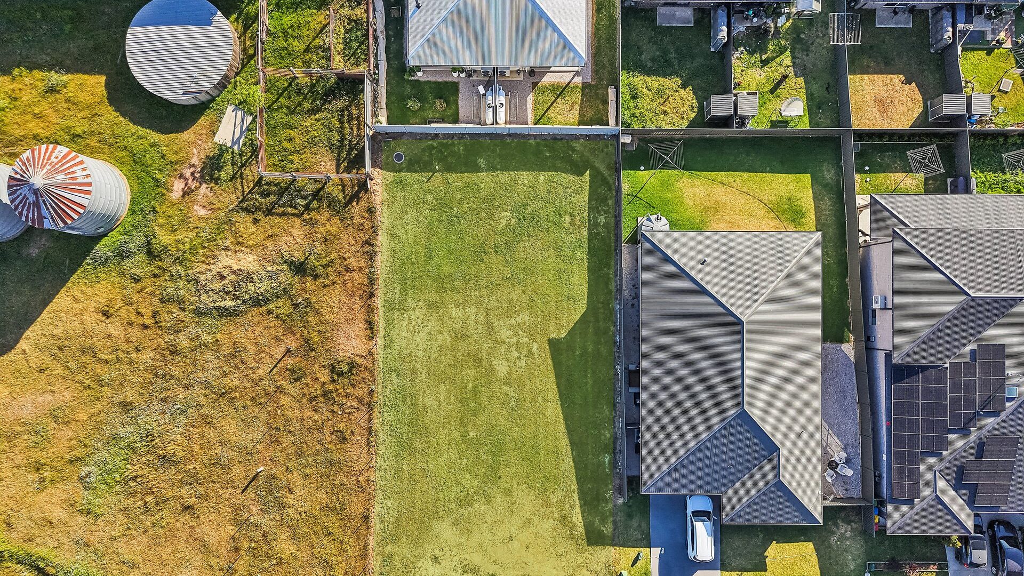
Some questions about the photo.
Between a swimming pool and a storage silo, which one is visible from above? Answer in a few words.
storage silo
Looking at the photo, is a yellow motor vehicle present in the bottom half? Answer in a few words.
No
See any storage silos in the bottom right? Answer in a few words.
No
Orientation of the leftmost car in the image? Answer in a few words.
from top to bottom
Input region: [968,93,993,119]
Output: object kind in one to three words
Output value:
shed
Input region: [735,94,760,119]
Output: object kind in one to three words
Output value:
shed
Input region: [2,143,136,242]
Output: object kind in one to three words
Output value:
silo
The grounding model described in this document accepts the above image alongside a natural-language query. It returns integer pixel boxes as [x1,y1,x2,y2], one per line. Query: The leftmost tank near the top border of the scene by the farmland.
[122,0,244,108]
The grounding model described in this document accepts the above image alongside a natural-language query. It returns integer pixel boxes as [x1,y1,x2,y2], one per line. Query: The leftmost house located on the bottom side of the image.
[636,230,823,525]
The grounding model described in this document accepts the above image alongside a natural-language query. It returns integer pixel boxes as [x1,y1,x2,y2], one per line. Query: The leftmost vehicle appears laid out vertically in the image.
[682,494,715,563]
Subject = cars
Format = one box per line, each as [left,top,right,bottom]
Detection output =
[962,513,995,575]
[682,494,715,563]
[989,522,1024,576]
